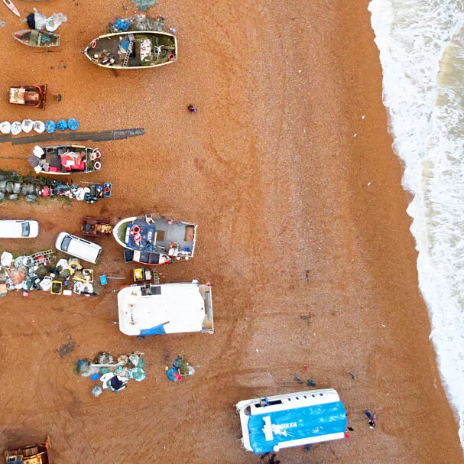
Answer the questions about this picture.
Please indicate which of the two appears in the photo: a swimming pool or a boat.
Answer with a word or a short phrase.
boat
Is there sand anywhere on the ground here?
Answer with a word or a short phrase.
Yes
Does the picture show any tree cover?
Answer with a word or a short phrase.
No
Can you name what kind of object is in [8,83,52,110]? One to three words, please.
work vehicle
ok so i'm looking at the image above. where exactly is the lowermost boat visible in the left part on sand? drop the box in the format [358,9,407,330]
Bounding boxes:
[114,279,215,337]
